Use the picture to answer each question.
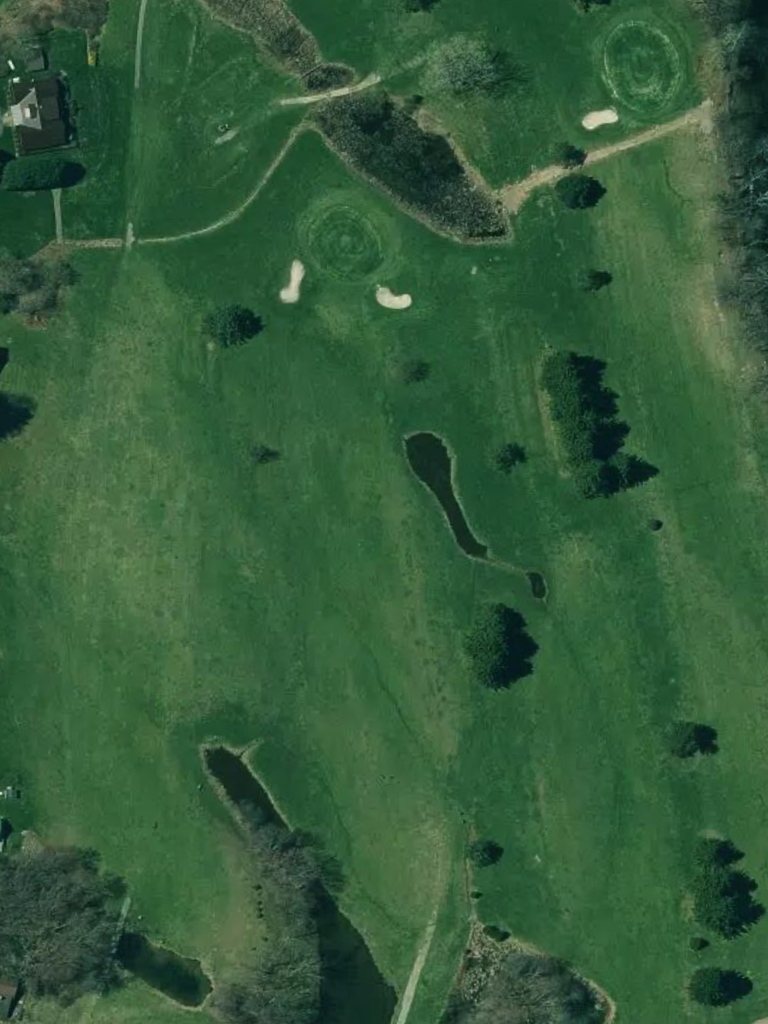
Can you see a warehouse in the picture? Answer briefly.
No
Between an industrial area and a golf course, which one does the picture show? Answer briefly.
golf course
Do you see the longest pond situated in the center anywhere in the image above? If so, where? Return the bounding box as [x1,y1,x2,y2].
[405,432,489,557]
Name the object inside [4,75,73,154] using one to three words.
house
